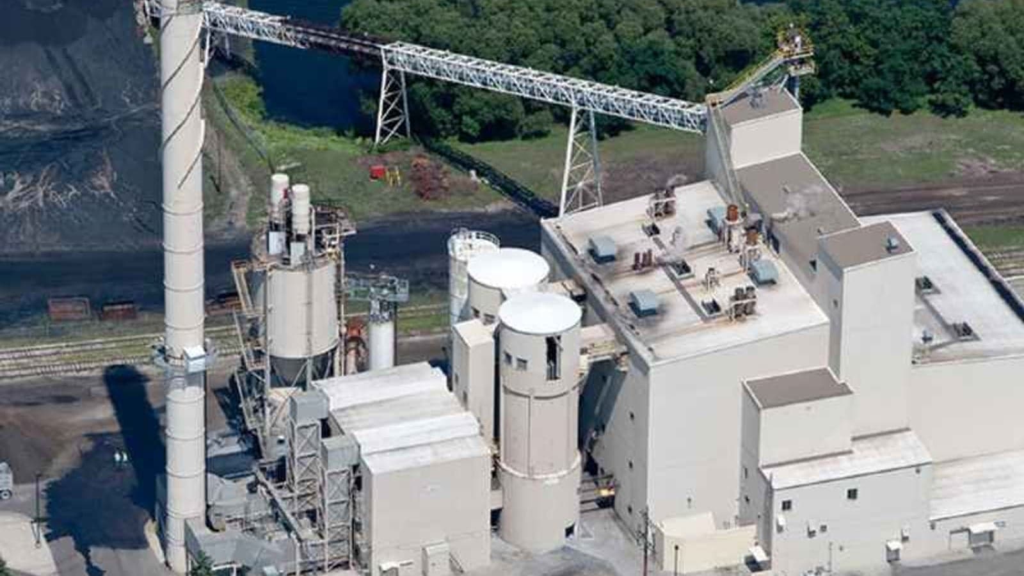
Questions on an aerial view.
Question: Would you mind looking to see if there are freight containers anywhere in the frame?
Yes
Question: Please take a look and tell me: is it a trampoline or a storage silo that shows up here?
storage silo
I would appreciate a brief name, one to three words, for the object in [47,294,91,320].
shipping container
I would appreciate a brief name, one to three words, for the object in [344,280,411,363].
silo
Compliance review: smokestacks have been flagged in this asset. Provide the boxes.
[151,0,217,576]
